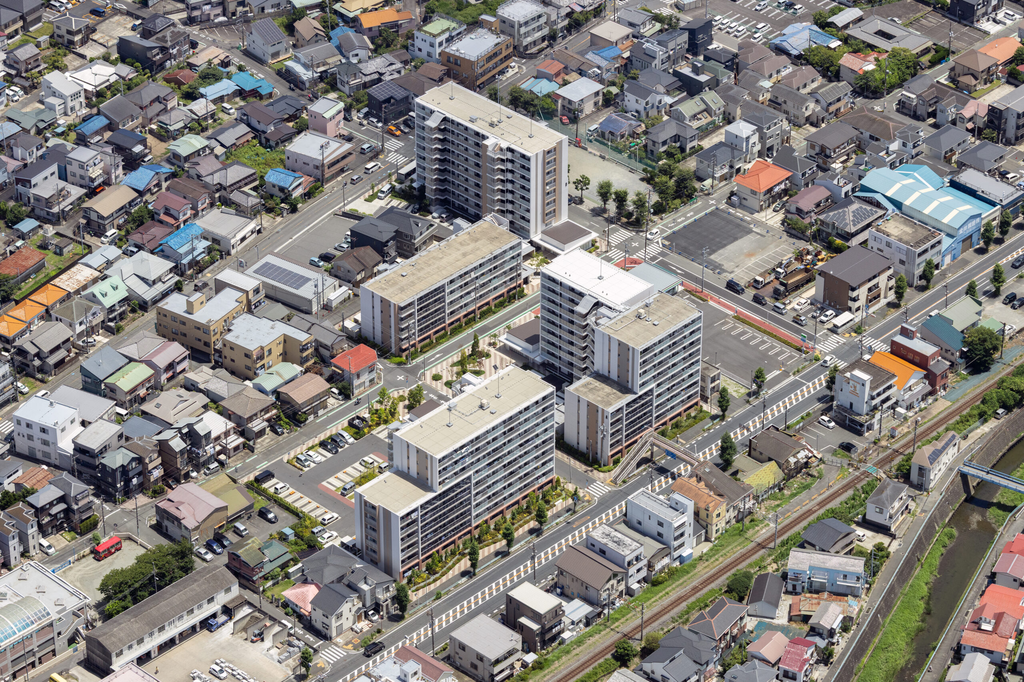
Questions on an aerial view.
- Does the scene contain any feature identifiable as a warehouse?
Yes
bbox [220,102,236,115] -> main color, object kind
white vehicle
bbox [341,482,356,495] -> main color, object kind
gray vehicle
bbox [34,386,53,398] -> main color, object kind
white vehicle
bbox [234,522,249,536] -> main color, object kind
gray vehicle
